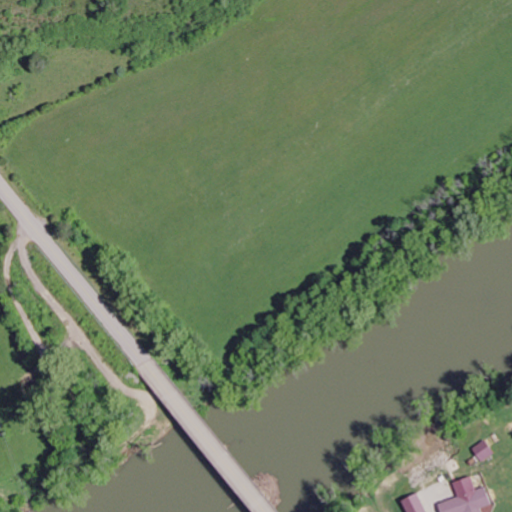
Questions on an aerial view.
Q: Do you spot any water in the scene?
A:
Yes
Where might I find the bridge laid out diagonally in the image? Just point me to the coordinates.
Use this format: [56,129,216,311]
[132,350,279,512]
